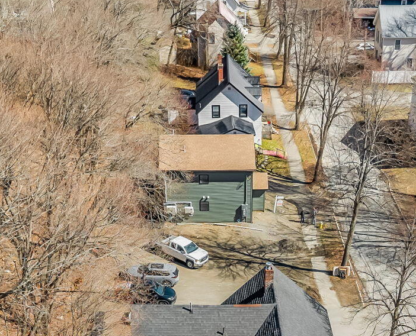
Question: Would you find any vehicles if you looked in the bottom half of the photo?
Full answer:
Yes, a vehicle is visible in the bottom half of the photo.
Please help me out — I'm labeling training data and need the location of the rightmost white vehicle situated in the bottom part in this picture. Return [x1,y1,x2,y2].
[154,228,211,269]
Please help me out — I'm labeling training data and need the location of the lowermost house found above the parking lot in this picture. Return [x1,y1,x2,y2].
[159,131,268,222]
